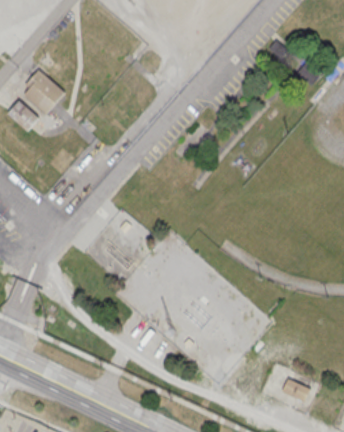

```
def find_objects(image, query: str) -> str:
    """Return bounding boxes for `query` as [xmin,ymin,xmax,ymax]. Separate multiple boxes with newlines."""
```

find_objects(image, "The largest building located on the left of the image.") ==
[22,70,66,114]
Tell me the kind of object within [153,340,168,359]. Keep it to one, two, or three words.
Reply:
vehicle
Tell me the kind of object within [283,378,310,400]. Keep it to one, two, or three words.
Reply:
house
